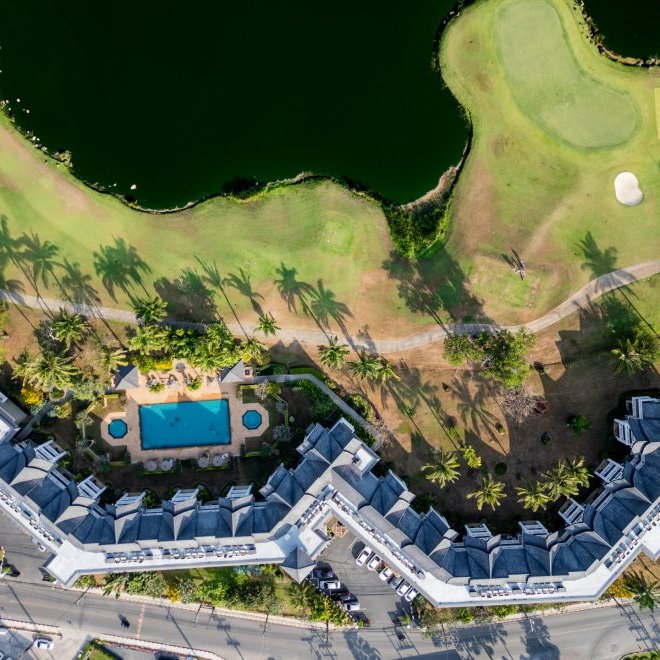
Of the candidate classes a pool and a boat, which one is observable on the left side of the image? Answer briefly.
pool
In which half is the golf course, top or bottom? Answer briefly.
top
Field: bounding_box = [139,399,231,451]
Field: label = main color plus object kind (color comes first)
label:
blue swimming pool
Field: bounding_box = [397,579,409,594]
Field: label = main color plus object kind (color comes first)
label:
white vehicle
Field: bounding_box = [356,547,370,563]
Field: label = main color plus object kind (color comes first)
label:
white vehicle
